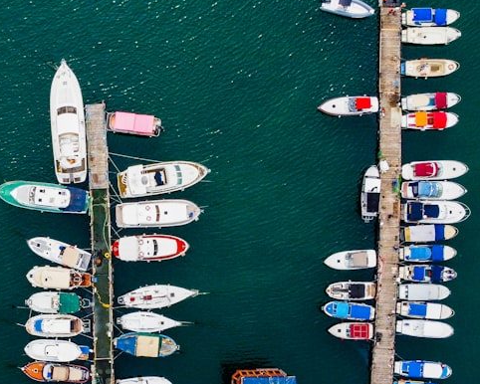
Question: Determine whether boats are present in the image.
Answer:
Yes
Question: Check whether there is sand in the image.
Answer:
No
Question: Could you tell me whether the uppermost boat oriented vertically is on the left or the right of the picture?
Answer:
left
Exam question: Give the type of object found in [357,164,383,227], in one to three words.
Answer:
boat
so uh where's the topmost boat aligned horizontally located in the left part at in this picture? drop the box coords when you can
[105,110,169,141]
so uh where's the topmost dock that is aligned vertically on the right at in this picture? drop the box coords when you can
[372,6,405,332]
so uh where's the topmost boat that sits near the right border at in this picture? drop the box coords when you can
[401,4,461,27]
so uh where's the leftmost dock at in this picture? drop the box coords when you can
[85,103,119,384]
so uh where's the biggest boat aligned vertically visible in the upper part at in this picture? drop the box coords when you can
[46,59,89,185]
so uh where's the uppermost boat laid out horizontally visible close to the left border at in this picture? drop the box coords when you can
[0,180,92,221]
